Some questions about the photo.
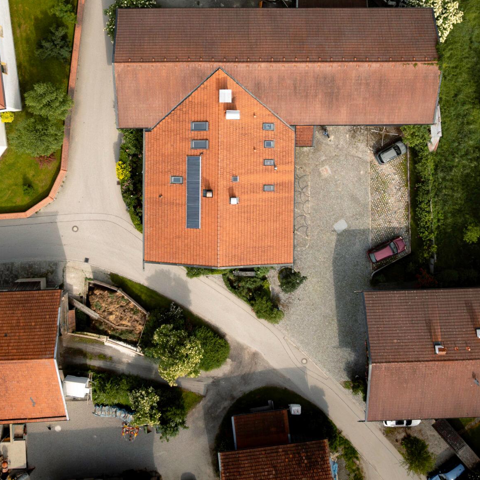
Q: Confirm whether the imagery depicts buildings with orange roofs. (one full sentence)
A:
Yes, a building with an orange roof is visible in the scene.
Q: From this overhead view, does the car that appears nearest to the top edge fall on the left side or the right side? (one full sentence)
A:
The car that appears nearest to the top edge appears in the right half of the scene.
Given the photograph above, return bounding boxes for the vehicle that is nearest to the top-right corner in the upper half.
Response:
[371,139,410,167]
